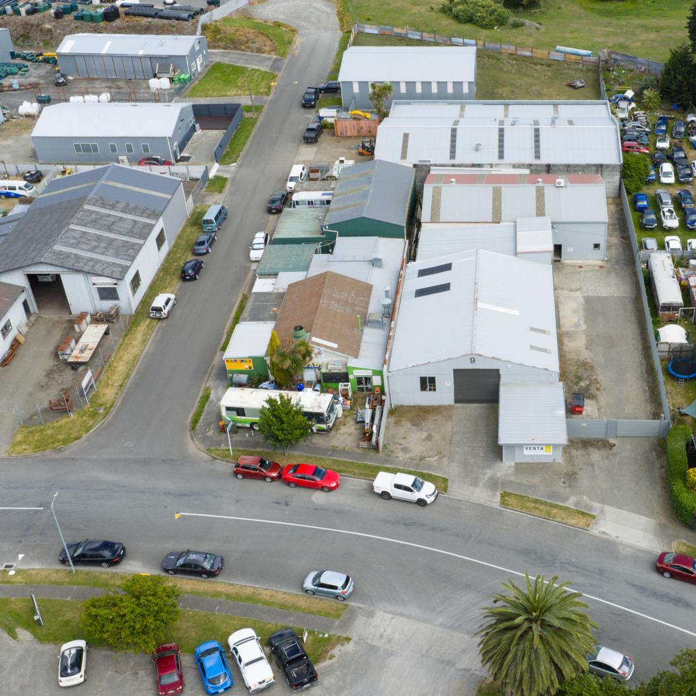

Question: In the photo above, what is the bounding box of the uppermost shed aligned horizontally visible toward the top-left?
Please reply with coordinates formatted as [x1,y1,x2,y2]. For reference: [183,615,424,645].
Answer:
[55,34,212,78]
